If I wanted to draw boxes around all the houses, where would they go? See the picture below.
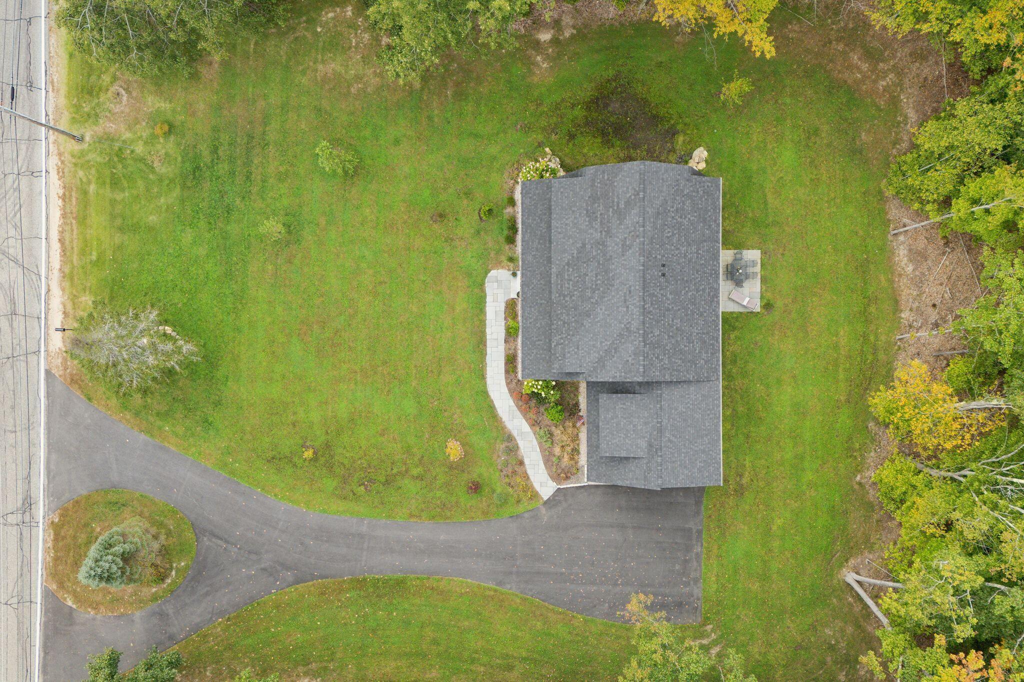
[518,162,722,489]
